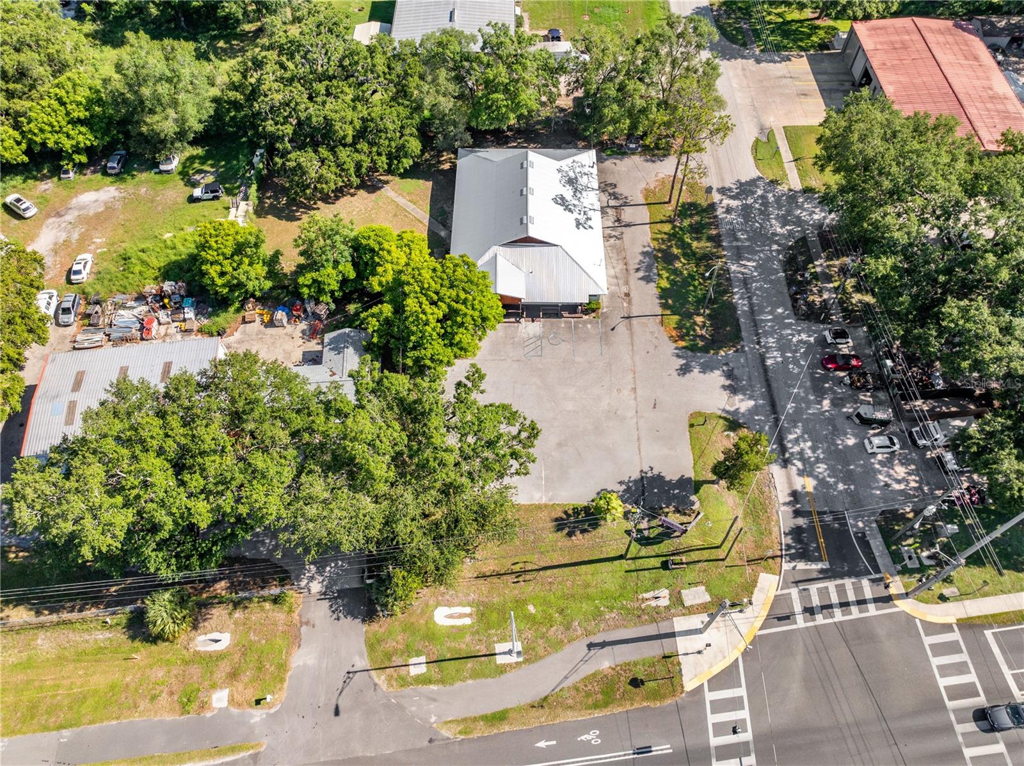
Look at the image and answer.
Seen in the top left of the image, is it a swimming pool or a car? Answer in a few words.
car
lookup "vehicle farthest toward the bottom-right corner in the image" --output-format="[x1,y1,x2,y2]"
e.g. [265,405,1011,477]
[984,701,1024,728]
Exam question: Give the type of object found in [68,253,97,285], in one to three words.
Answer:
car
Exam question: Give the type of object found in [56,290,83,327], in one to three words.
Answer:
car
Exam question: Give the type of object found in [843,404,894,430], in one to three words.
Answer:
trailer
